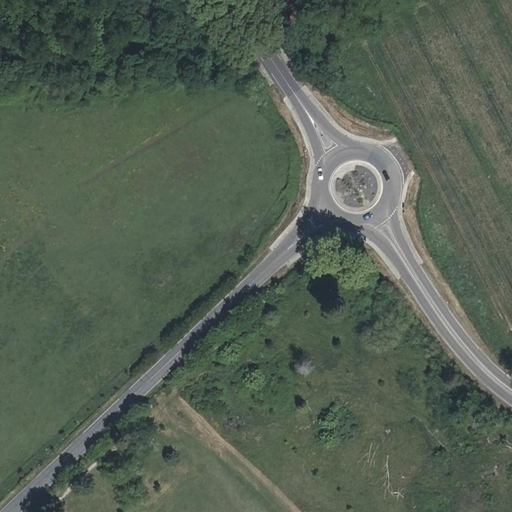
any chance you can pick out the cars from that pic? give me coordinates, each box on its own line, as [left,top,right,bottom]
[382,169,390,182]
[317,166,324,180]
[362,212,373,220]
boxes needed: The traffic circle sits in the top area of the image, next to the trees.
[296,132,404,248]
